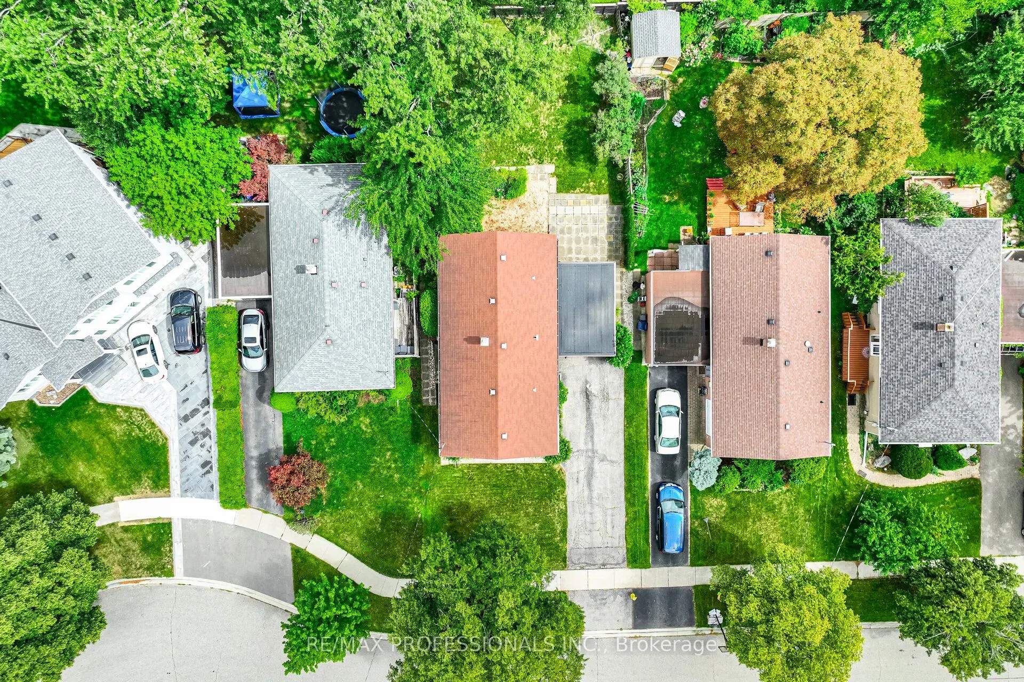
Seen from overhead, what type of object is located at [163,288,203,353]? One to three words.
car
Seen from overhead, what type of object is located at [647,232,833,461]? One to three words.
house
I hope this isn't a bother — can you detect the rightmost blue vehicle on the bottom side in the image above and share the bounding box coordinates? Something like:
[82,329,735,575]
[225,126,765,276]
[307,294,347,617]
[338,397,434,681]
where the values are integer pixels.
[655,482,688,555]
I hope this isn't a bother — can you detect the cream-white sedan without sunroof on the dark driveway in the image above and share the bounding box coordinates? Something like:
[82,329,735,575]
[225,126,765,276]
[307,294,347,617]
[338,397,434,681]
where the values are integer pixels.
[654,388,685,455]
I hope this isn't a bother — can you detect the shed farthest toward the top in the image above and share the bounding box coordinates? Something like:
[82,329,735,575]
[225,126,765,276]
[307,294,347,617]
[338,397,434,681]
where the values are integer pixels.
[630,8,682,78]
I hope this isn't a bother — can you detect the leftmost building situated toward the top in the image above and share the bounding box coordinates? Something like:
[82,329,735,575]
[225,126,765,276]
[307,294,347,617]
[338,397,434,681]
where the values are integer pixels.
[0,128,193,409]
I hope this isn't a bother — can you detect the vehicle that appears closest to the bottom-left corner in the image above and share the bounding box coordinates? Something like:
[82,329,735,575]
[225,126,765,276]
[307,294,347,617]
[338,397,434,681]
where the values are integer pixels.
[122,317,167,384]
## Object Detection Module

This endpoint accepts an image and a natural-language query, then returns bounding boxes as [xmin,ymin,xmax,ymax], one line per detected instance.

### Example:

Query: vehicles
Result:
[655,482,688,555]
[122,317,167,384]
[163,288,203,353]
[234,308,267,372]
[654,388,685,455]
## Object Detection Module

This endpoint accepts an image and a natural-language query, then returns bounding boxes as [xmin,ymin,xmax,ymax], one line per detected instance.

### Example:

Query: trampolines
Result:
[318,78,367,138]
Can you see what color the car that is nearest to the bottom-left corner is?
white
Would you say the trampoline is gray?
No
